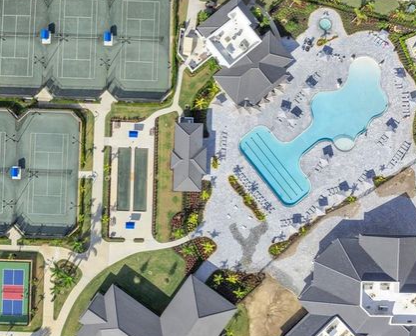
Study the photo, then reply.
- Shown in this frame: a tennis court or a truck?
tennis court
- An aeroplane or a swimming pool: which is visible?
swimming pool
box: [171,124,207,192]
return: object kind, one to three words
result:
building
